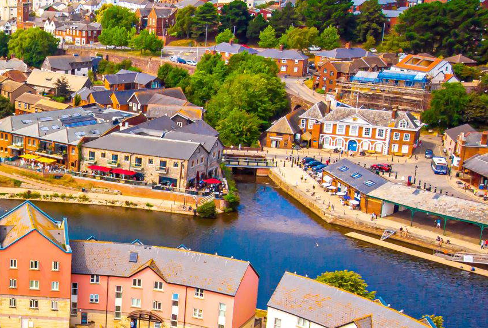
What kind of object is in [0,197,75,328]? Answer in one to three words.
house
